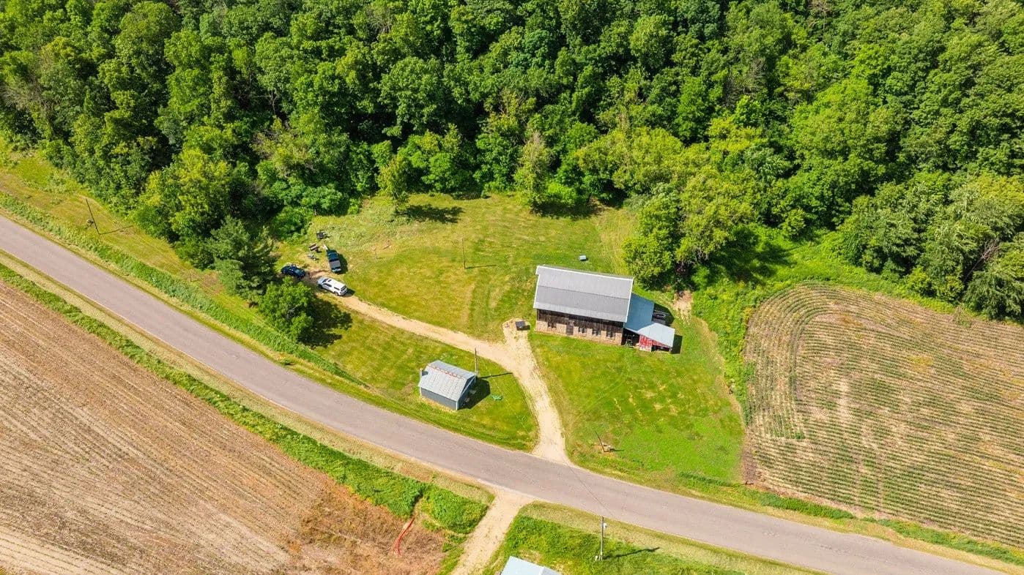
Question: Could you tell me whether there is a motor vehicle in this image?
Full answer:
Yes, there is a motor vehicle in the image.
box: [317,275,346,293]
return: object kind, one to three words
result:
car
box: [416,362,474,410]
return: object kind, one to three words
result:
shed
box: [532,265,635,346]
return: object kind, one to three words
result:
barn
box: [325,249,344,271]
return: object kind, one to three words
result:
vehicle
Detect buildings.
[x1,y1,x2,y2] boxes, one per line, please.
[532,265,635,346]
[503,557,561,575]
[416,362,474,410]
